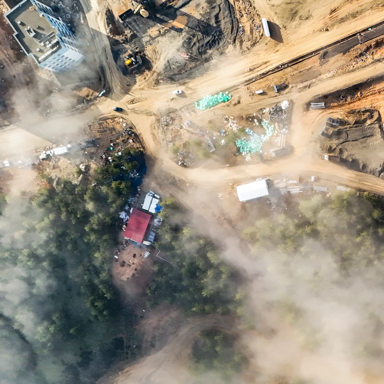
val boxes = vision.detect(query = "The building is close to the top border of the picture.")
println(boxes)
[2,0,81,75]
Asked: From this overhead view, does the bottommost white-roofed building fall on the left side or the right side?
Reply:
right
